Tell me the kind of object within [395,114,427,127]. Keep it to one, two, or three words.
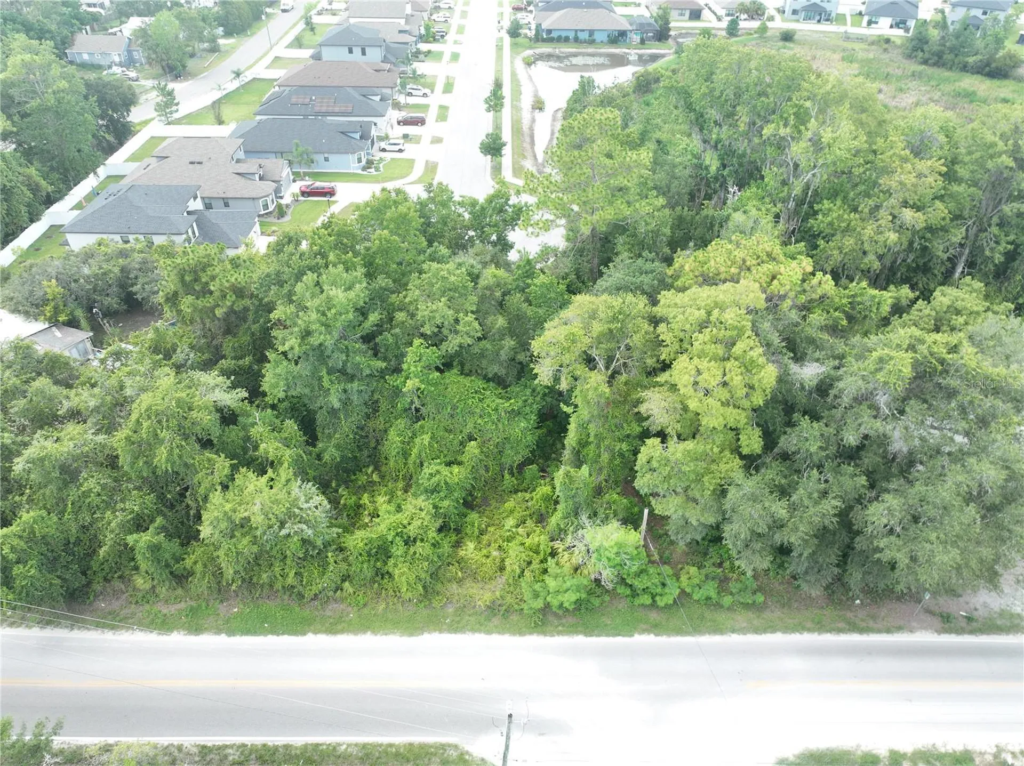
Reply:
vehicle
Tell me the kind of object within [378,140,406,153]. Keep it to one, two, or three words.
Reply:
vehicle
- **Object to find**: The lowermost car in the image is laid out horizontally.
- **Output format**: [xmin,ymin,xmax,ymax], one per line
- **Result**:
[300,183,337,200]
